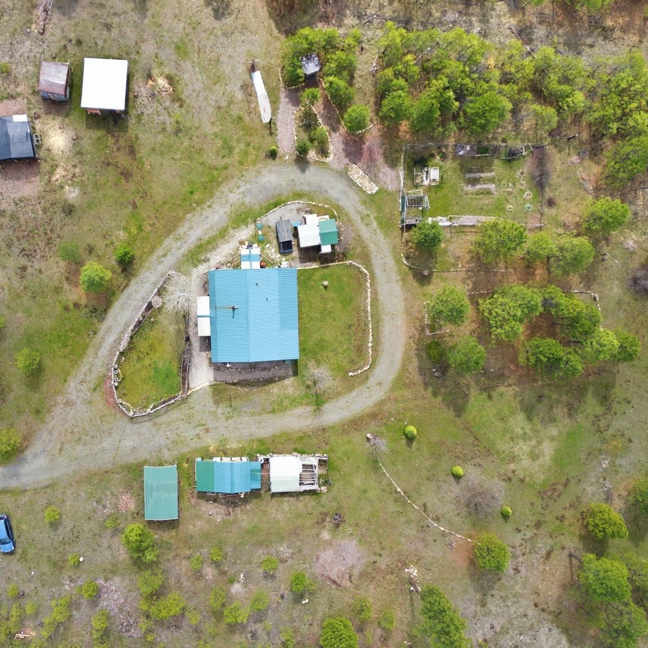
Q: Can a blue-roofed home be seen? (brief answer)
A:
Yes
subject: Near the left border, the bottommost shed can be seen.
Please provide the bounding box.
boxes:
[0,116,39,165]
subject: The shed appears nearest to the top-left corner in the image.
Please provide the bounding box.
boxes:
[37,55,77,105]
